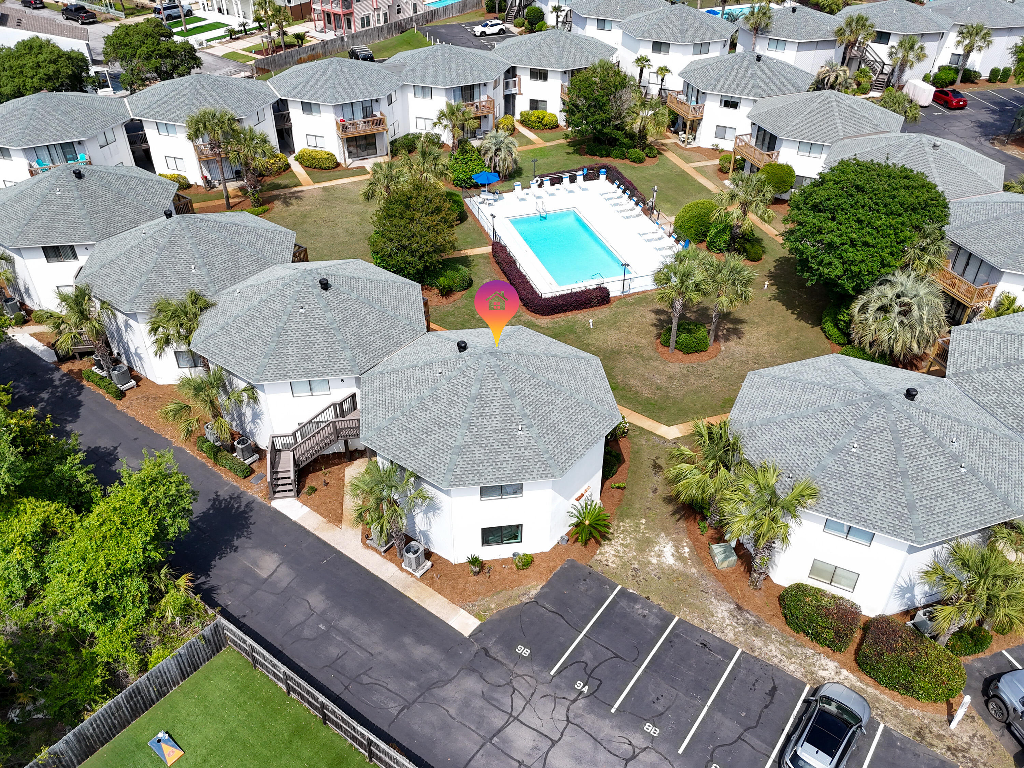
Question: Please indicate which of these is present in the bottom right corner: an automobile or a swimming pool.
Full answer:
You can see an automobile in the bottom right corner.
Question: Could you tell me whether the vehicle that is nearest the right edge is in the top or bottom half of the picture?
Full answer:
You can find the vehicle that is nearest the right edge in the bottom half.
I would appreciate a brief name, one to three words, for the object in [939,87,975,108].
car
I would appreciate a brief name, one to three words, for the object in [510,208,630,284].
swimming pool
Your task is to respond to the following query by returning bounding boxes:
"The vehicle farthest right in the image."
[988,667,1024,732]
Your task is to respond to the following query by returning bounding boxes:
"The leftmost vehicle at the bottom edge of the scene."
[781,675,879,768]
